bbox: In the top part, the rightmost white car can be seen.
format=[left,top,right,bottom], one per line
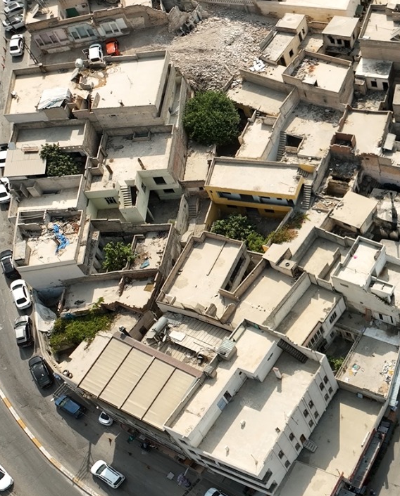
[88,44,102,59]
